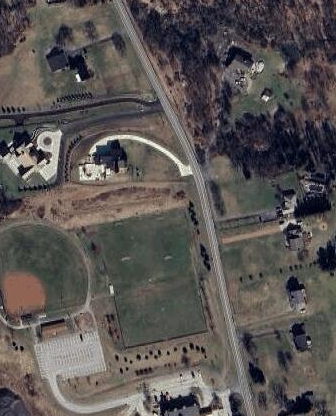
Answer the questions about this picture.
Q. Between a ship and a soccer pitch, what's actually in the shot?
soccer pitch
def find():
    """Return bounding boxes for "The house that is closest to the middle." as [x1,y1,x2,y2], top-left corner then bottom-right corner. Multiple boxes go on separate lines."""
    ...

[95,141,128,168]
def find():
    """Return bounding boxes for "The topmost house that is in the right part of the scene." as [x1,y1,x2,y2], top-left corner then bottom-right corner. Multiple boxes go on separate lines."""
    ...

[222,48,256,70]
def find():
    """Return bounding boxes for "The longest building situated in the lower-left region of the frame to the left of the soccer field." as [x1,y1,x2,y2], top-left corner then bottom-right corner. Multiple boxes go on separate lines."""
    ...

[41,321,68,338]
